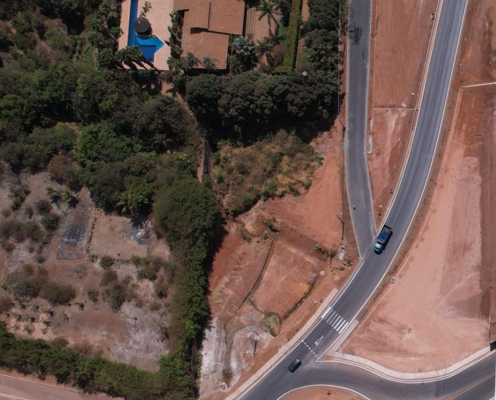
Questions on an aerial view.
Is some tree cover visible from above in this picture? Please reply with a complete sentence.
Yes, there is tree cover in the image.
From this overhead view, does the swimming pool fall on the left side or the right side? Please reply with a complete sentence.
You can find the swimming pool on the left side of the picture.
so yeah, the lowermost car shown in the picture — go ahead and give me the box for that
[287,358,301,372]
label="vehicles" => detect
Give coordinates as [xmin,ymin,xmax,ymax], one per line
[374,224,392,253]
[287,358,301,372]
